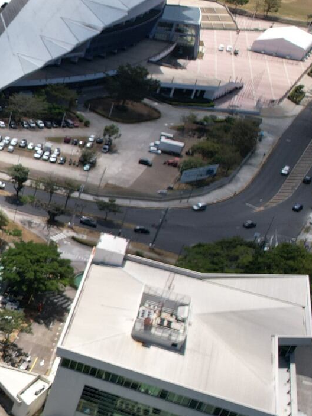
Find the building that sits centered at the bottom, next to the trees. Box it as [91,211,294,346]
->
[41,234,312,416]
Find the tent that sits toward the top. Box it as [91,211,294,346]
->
[251,22,312,60]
